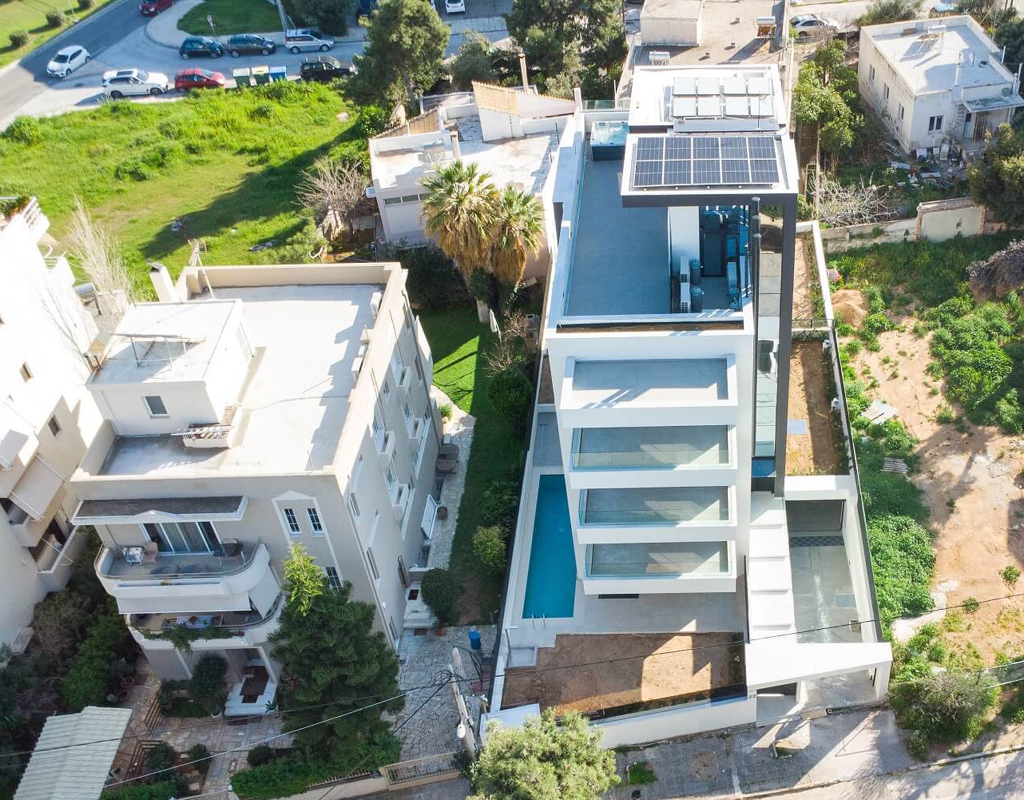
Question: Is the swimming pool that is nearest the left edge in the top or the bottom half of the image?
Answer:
bottom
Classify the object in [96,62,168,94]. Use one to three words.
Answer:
car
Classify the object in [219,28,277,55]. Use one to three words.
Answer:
car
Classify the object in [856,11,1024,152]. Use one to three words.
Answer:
house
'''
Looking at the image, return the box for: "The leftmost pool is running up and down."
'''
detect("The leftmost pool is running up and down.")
[515,470,578,628]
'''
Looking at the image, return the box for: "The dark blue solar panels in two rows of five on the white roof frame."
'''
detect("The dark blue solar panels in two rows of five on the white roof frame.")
[635,137,779,191]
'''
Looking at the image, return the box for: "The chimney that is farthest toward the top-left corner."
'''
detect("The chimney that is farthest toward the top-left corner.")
[130,242,172,297]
